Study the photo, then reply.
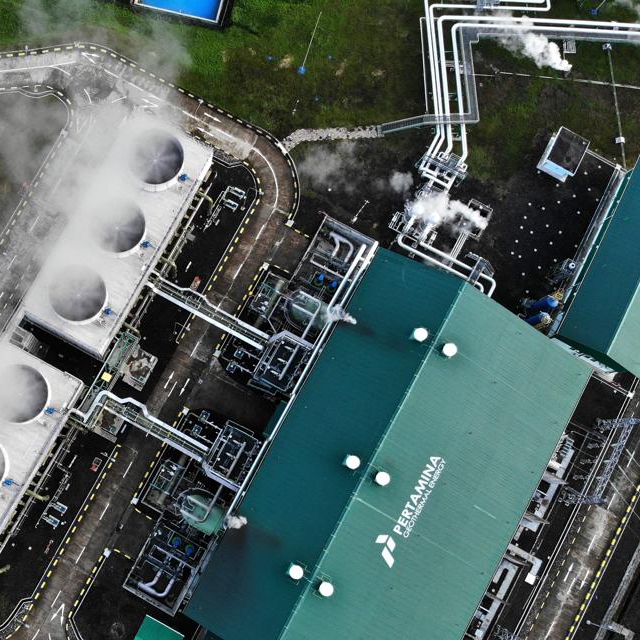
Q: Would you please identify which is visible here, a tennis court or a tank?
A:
tank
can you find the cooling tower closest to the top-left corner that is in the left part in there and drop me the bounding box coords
[20,109,222,379]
